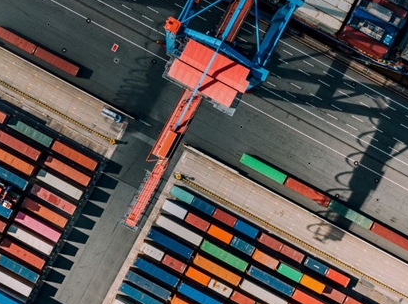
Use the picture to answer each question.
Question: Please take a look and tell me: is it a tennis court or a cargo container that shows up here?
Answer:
cargo container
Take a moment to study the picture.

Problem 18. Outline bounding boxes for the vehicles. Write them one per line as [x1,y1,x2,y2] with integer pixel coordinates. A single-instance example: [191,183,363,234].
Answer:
[0,176,27,211]
[102,106,124,123]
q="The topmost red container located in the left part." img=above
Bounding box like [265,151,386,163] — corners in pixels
[0,23,39,52]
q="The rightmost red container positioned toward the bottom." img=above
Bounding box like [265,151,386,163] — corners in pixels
[368,220,408,251]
